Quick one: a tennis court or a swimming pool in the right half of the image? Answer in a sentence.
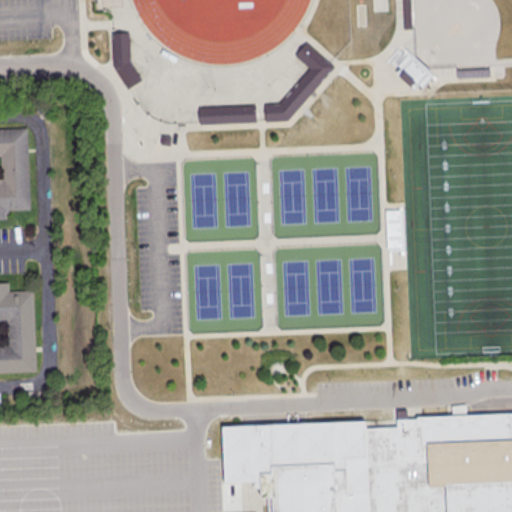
Visible in the right half of the image is a tennis court.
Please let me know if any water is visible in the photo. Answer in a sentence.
No, the scene doesn't show any water.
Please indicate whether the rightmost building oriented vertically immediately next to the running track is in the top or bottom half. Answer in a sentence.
The top half of the photo is where the rightmost building oriented vertically immediately next to the running track is.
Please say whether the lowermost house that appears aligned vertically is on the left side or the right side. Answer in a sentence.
The lowermost house that appears aligned vertically sits on the left side.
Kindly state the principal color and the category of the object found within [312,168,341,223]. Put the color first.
blue tennis court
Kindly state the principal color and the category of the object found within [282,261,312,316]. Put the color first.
blue tennis court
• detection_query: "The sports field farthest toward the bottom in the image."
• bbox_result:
[402,96,512,358]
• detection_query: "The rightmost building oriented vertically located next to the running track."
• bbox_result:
[113,32,141,87]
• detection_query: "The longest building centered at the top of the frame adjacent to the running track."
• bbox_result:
[264,42,334,121]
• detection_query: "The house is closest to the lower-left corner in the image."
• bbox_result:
[0,284,37,374]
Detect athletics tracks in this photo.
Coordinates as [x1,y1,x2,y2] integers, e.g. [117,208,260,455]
[132,0,311,65]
